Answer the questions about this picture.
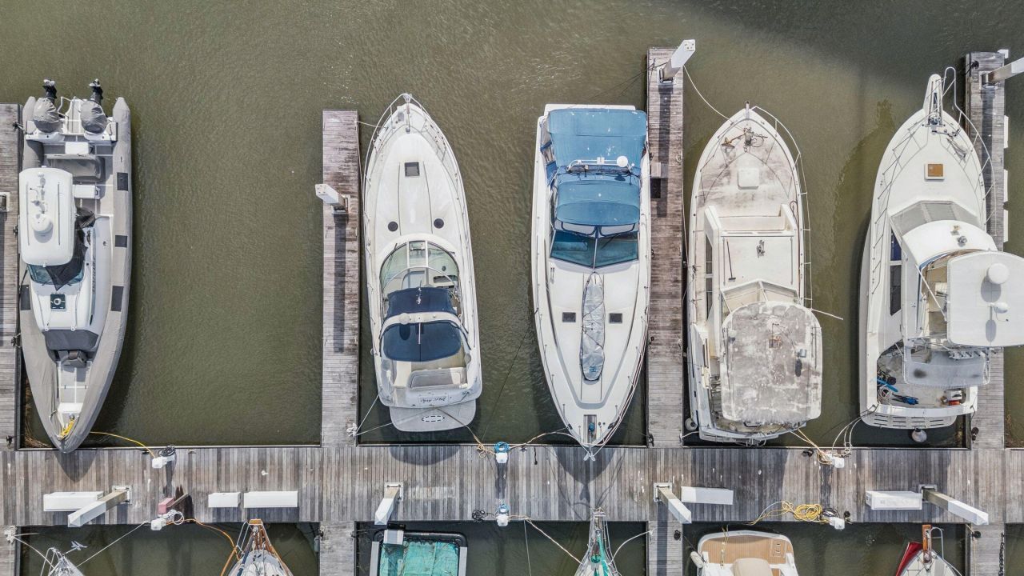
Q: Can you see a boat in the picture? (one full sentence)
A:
Yes, I can see a boat in this picture.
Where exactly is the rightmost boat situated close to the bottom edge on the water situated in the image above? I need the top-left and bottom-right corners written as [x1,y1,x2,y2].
[888,524,961,576]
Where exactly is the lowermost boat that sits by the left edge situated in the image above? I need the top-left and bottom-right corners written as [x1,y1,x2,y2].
[40,540,96,576]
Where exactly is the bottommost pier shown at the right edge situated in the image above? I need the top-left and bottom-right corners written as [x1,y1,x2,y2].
[960,523,1004,576]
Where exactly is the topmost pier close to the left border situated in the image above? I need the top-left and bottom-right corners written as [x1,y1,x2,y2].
[0,102,26,448]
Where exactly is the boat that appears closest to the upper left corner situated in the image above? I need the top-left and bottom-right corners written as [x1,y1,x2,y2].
[17,79,133,450]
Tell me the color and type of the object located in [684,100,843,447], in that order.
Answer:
white boat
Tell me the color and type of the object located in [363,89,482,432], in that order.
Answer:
white boat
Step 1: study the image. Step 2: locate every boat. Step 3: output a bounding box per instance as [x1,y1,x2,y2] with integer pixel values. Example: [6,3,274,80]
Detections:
[531,105,652,461]
[40,540,96,576]
[363,89,482,432]
[855,67,1024,429]
[693,528,798,576]
[229,519,294,576]
[17,79,133,450]
[684,100,843,447]
[576,508,621,576]
[888,524,961,576]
